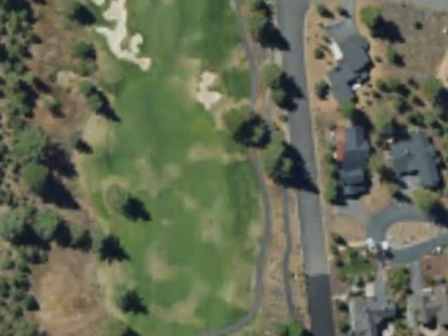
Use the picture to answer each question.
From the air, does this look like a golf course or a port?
golf course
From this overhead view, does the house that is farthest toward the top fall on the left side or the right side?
right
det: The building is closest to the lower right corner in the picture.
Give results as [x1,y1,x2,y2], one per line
[407,285,448,336]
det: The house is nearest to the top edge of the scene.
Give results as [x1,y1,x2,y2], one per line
[334,25,374,104]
